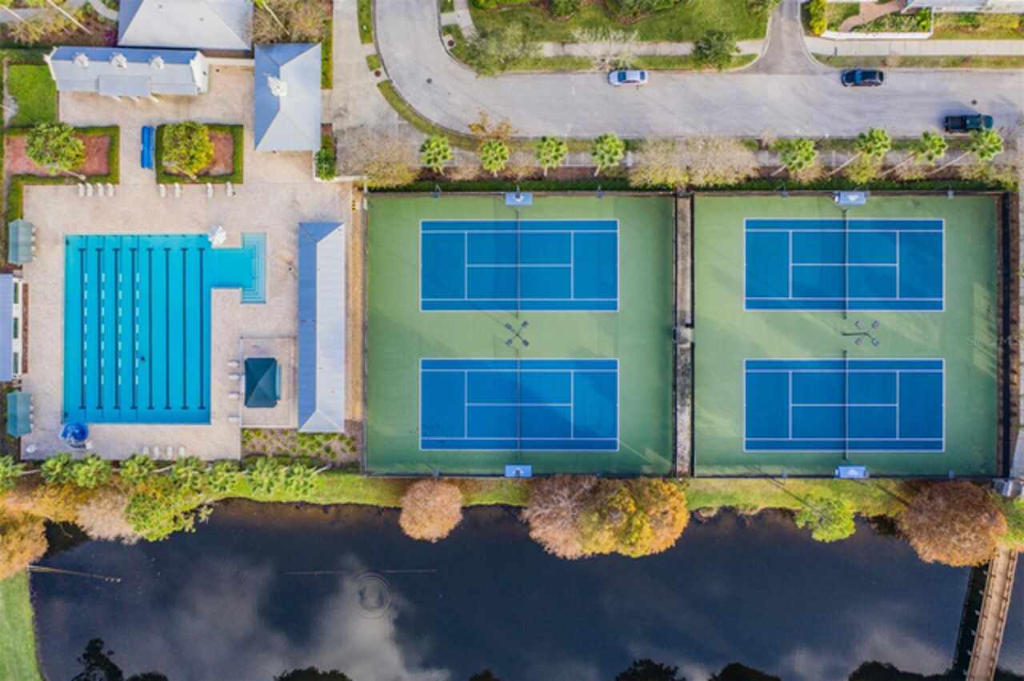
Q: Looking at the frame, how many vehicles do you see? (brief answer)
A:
3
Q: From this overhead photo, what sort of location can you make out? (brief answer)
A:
sports ground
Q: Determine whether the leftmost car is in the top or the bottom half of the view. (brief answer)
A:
top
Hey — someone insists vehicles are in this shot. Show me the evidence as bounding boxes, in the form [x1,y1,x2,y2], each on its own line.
[609,65,648,85]
[946,111,996,132]
[843,64,886,86]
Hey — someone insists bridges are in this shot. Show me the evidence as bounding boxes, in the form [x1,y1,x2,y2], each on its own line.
[951,536,1022,681]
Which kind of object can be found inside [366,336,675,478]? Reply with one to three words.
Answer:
tennis court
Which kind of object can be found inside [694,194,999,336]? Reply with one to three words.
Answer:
tennis court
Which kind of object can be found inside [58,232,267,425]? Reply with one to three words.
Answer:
swimming pool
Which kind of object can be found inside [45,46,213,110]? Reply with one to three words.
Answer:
building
